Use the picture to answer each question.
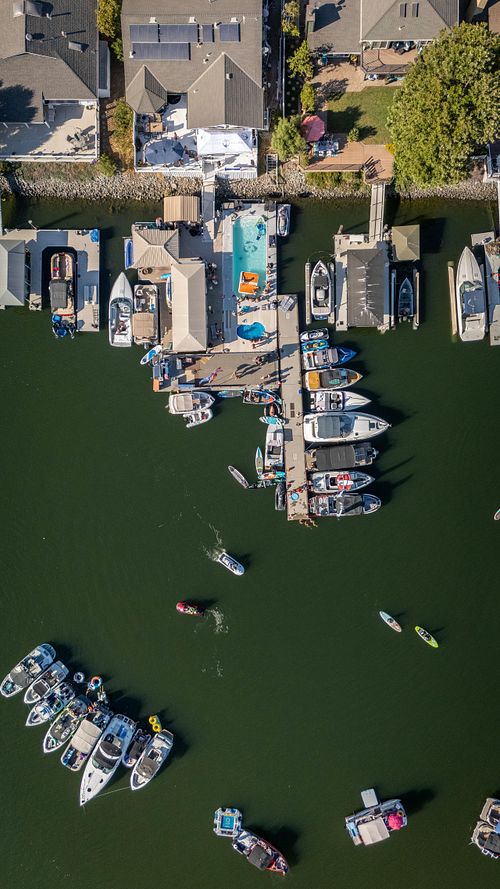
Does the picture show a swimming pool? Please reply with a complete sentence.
Yes, a swimming pool is visible in the scene.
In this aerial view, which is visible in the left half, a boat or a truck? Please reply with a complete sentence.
Looking in the left half, you will find a boat.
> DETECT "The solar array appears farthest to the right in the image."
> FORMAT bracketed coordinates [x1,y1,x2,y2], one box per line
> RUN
[220,23,240,42]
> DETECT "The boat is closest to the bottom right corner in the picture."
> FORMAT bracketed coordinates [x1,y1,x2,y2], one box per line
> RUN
[464,819,500,864]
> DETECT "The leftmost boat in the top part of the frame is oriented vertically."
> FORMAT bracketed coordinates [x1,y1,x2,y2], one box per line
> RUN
[49,249,76,330]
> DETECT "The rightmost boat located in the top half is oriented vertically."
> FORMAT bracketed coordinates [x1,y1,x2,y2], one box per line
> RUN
[453,245,486,347]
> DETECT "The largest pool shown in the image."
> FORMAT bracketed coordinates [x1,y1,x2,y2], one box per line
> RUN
[221,203,279,352]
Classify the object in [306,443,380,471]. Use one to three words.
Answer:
boat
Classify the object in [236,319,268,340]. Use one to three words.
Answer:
swimming pool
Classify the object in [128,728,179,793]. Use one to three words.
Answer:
boat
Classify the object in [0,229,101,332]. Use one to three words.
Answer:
pier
